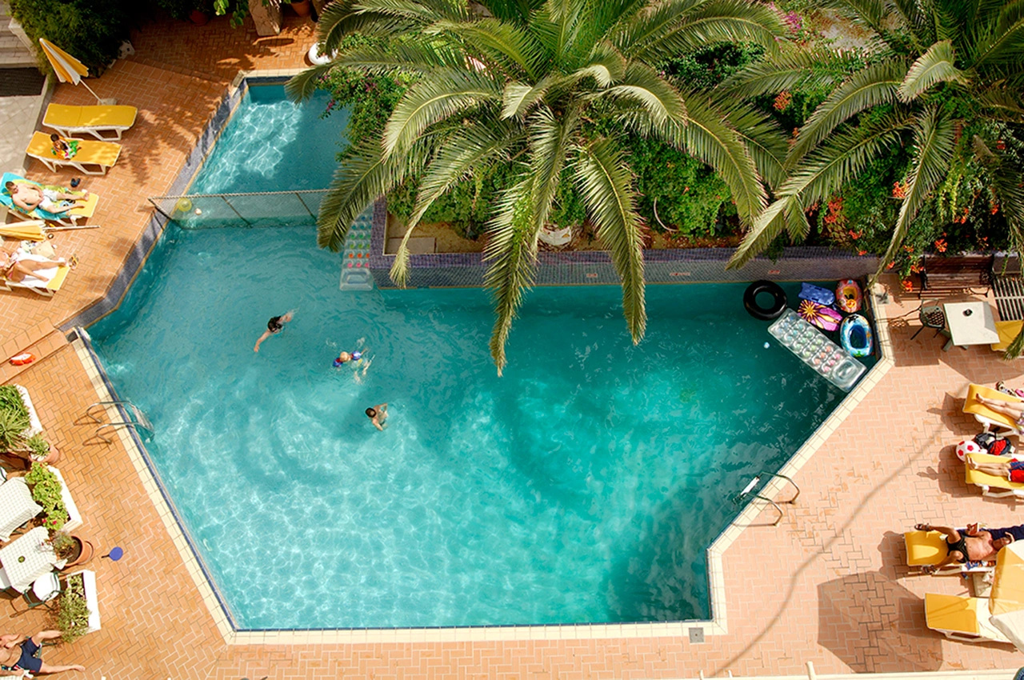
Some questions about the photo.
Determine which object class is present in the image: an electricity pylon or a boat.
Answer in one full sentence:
The image shows a boat.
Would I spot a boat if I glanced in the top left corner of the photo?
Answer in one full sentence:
No, I can find no boat in the top left corner of the photo.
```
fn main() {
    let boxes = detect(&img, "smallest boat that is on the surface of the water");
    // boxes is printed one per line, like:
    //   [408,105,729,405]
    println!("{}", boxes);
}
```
[836,282,863,311]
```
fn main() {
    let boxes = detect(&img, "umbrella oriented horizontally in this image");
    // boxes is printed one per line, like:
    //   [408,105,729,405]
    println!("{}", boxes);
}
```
[0,220,99,243]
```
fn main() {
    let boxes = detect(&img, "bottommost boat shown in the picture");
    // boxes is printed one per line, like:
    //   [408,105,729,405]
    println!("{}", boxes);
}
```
[840,314,875,356]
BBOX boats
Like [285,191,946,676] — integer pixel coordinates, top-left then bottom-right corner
[840,314,875,356]
[836,282,863,311]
